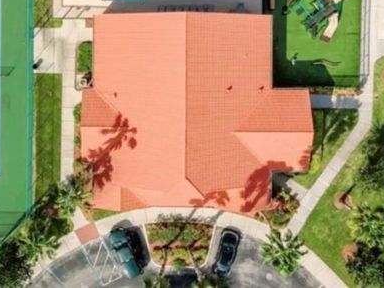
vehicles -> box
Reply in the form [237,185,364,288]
[217,230,241,275]
[109,227,142,279]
